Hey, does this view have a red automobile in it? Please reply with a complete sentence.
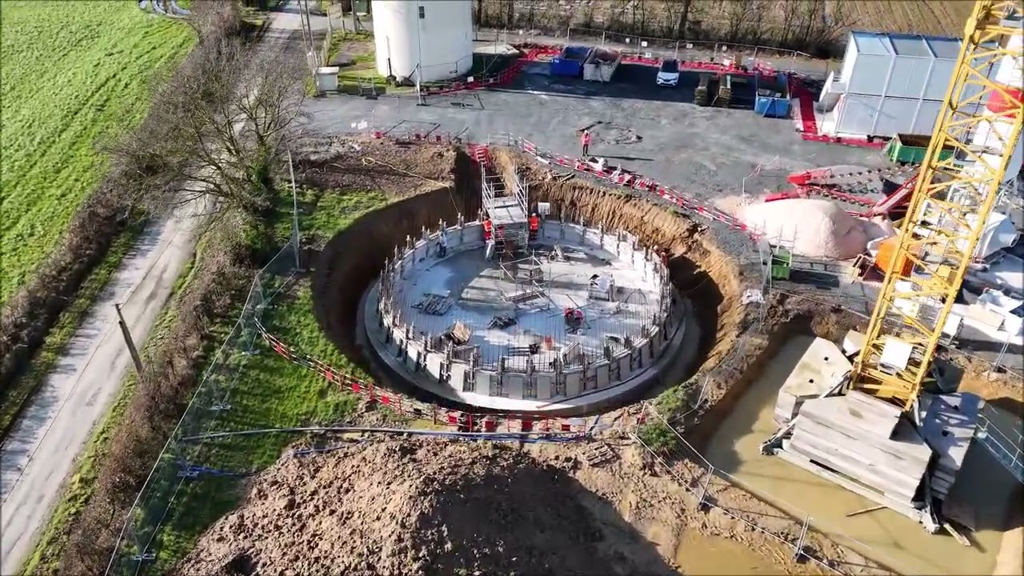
No, there appears to be no red automobile in this shot.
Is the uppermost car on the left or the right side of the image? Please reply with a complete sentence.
The uppermost car is on the right side of the image.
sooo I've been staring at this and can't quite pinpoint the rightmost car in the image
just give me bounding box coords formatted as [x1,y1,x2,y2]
[656,59,682,86]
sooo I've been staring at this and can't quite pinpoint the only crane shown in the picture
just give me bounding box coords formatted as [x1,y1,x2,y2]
[758,0,1024,525]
